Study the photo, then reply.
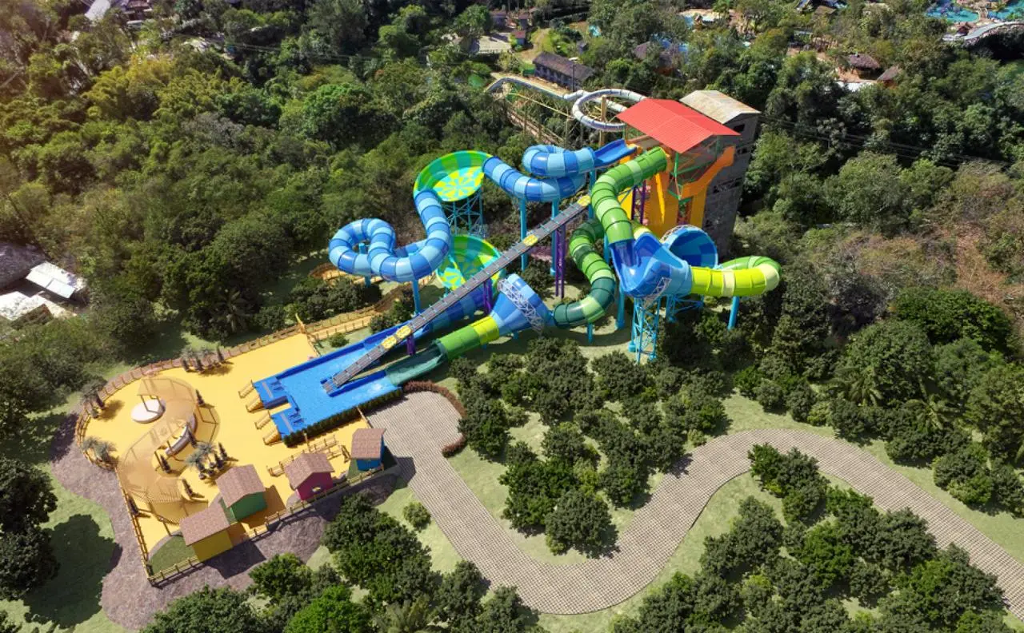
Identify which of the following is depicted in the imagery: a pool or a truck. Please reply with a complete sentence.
Visible in the photo is a pool.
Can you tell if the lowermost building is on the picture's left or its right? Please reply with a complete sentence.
It is on the left.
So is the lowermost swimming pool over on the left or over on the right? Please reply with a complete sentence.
The lowermost swimming pool is on the left side of the image.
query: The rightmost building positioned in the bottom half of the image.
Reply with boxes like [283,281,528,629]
[345,420,385,468]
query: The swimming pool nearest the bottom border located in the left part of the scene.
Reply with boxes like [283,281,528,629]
[255,322,399,442]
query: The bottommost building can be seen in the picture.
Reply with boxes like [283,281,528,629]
[175,496,233,562]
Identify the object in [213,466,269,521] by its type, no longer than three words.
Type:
building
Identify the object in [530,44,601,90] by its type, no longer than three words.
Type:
building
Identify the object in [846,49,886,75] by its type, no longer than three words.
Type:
shed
